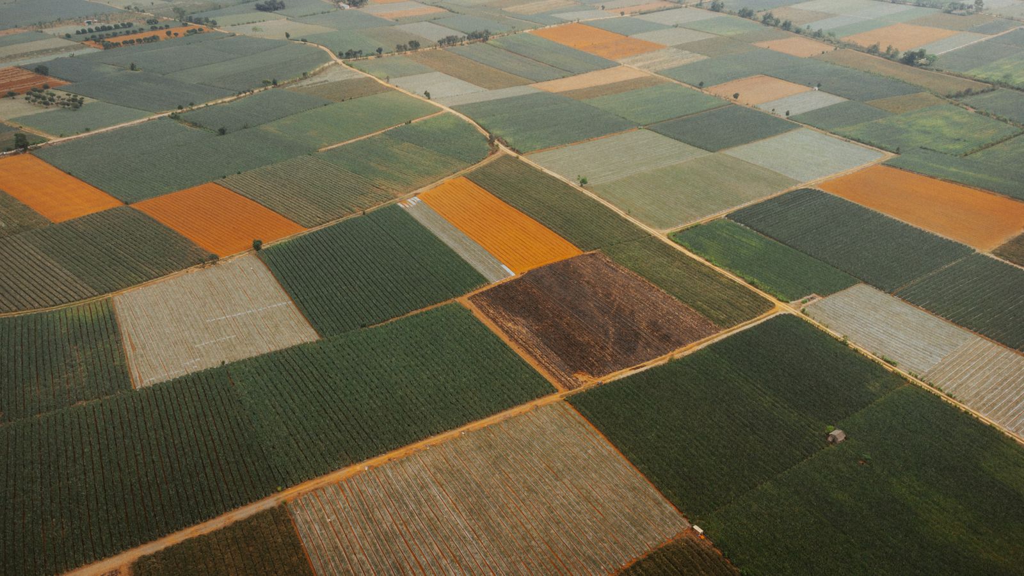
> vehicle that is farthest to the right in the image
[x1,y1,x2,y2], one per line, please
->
[691,521,708,542]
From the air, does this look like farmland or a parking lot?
farmland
